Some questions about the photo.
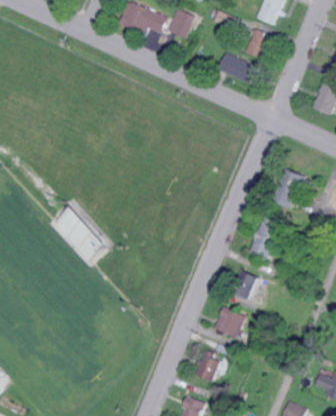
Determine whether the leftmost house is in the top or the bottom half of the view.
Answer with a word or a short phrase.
top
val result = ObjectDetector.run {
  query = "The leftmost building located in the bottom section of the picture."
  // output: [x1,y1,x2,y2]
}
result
[180,396,207,416]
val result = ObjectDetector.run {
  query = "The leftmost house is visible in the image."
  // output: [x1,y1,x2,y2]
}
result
[122,2,172,38]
